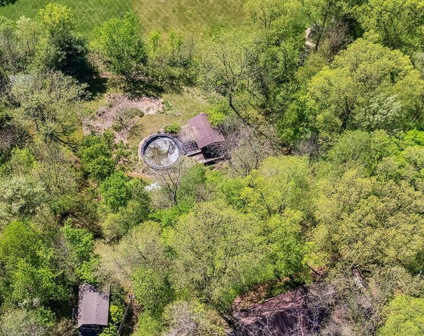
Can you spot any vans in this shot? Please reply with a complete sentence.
No, there appears to be no van in this shot.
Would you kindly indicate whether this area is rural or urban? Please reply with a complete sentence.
The land in this view is best described as rural.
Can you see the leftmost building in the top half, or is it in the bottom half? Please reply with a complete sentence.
You can find the leftmost building in the bottom half.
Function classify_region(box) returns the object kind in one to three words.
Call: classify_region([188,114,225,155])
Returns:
building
